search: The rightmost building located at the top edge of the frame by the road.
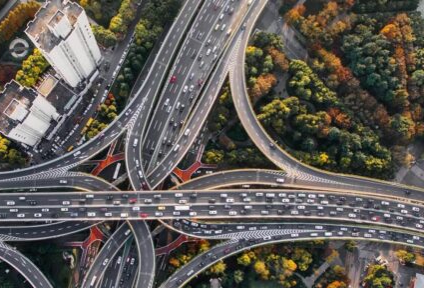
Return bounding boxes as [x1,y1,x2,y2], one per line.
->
[23,0,101,87]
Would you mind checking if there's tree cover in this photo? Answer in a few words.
Yes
